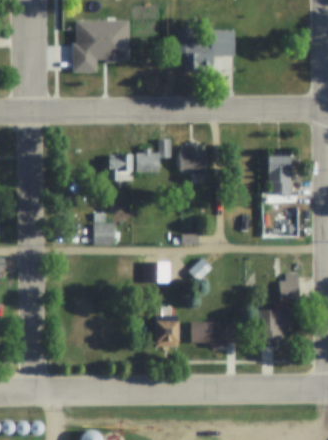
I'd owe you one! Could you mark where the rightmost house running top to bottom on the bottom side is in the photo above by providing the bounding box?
[279,272,300,332]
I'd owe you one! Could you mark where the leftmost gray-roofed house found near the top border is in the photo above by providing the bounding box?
[72,17,130,74]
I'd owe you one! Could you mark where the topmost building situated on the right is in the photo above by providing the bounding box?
[182,30,236,70]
